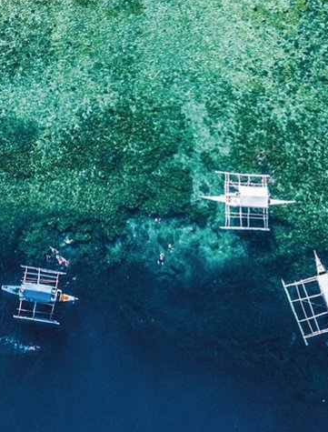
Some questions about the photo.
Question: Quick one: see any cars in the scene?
No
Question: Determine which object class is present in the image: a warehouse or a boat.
boat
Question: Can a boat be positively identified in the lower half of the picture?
Yes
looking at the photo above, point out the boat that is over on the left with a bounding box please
[2,265,81,324]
